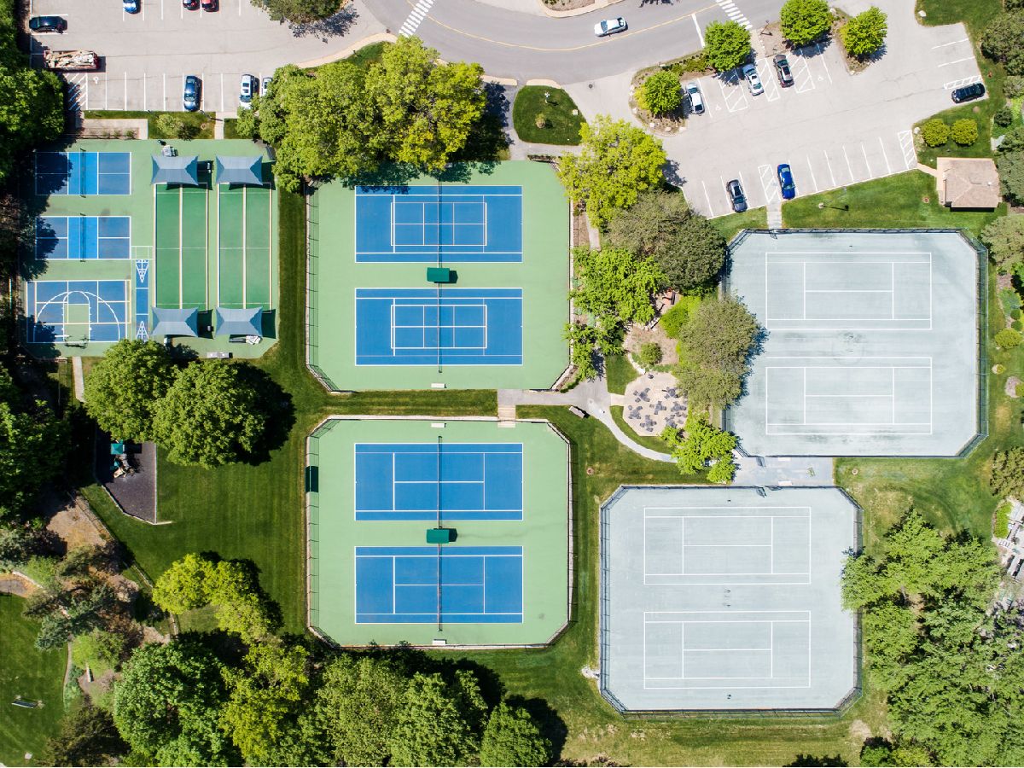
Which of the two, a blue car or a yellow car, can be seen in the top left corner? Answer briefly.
blue car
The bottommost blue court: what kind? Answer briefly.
tennis court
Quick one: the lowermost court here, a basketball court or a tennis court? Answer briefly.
tennis court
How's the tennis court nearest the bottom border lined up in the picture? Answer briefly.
from side to side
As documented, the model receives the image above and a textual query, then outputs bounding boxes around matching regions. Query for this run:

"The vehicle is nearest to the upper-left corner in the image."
[27,13,65,31]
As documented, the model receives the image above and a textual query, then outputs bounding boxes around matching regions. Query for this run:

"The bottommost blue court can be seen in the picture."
[355,546,523,624]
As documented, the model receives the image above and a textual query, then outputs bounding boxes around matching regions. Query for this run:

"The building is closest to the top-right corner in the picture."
[937,160,1000,209]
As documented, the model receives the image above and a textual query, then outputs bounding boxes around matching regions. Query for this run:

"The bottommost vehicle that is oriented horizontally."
[952,80,990,101]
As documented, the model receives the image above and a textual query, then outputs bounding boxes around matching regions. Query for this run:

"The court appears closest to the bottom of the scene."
[643,611,811,689]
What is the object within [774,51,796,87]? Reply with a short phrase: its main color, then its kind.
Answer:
gray car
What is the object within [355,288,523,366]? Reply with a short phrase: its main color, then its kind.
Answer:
blue tennis court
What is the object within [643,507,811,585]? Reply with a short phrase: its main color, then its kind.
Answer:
white tennis court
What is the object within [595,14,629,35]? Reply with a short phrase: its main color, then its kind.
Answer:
white car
